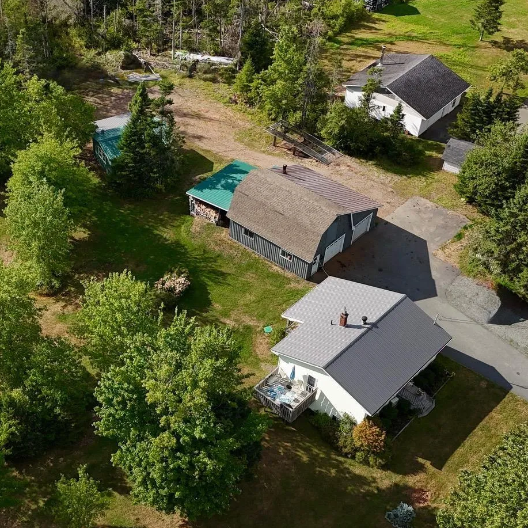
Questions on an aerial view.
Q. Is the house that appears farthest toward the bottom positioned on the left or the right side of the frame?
right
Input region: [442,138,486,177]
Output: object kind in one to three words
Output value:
shed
